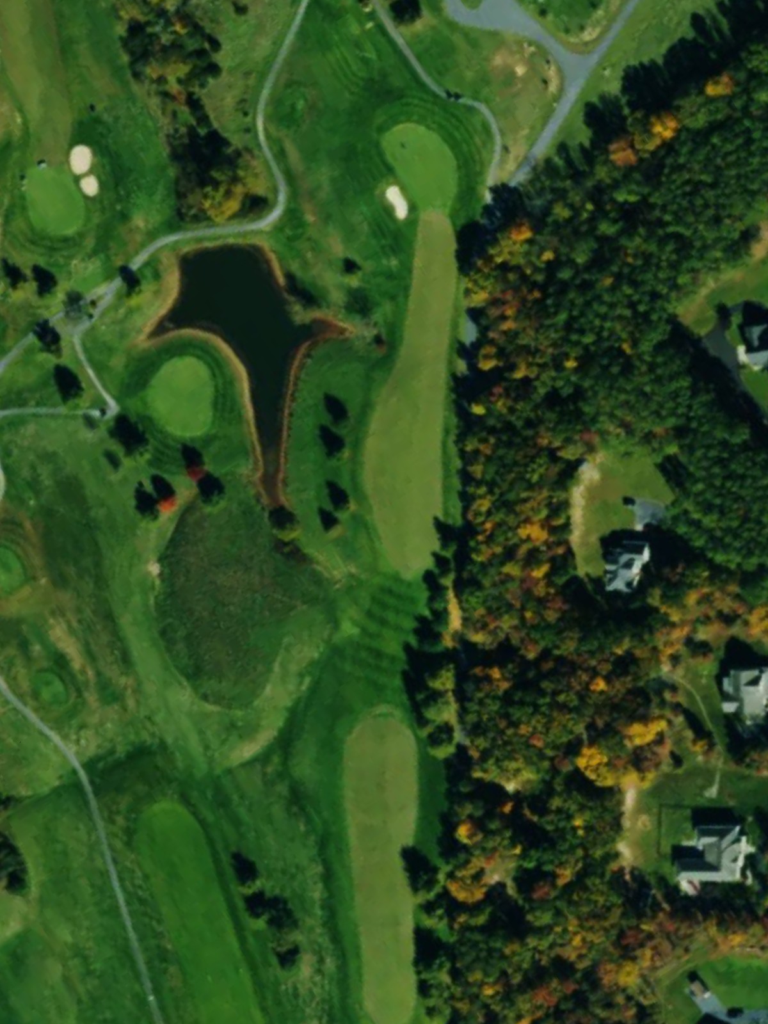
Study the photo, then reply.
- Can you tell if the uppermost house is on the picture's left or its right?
right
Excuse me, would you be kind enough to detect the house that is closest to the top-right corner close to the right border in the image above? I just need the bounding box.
[738,321,768,370]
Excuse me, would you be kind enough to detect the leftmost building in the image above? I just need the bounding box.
[607,542,652,591]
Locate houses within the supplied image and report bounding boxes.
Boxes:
[723,671,768,718]
[738,321,768,370]
[607,542,652,591]
[677,828,753,894]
